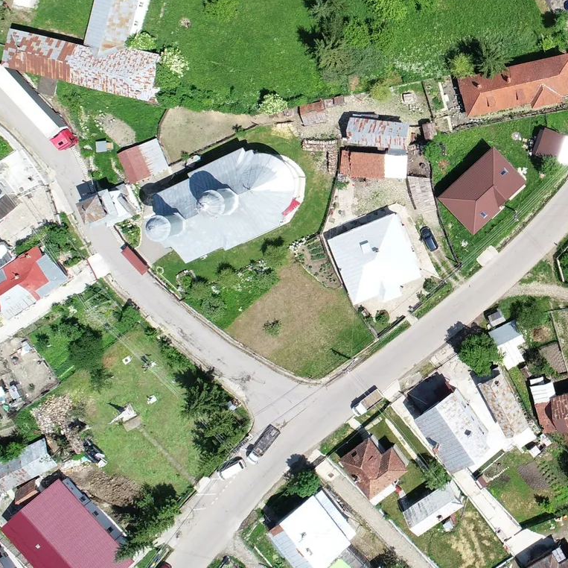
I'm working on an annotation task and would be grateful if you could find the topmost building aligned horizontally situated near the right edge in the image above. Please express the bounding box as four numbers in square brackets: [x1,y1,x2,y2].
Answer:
[457,55,568,118]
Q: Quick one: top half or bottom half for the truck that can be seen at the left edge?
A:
top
